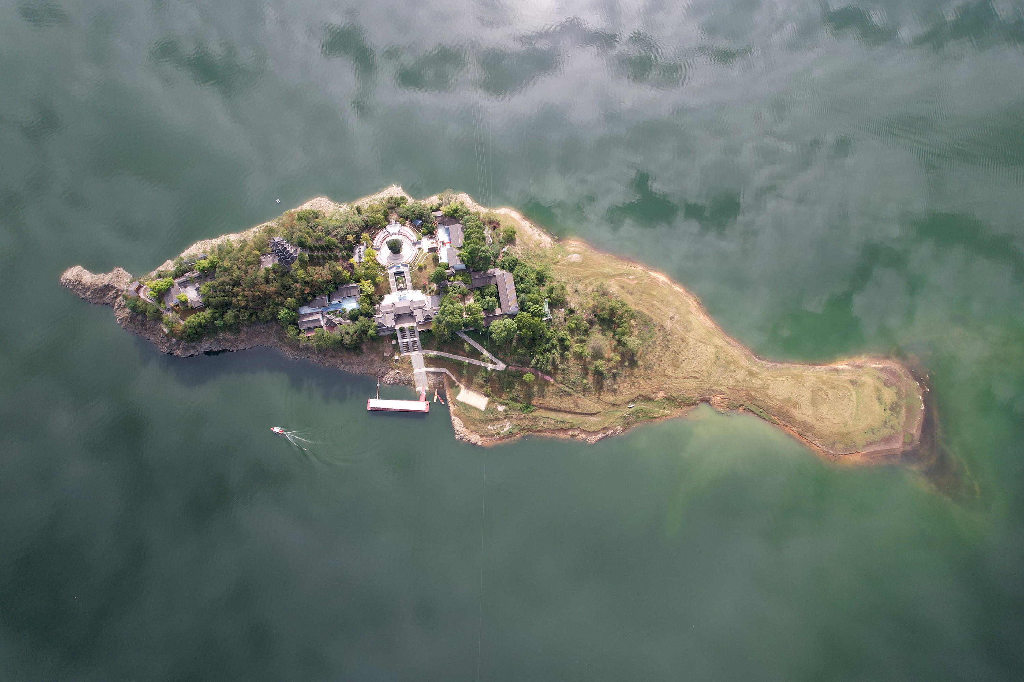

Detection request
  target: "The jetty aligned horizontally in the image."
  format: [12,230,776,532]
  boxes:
[367,399,429,412]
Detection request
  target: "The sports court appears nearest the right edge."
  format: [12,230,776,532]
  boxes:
[456,388,489,411]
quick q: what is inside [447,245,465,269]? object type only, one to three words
building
